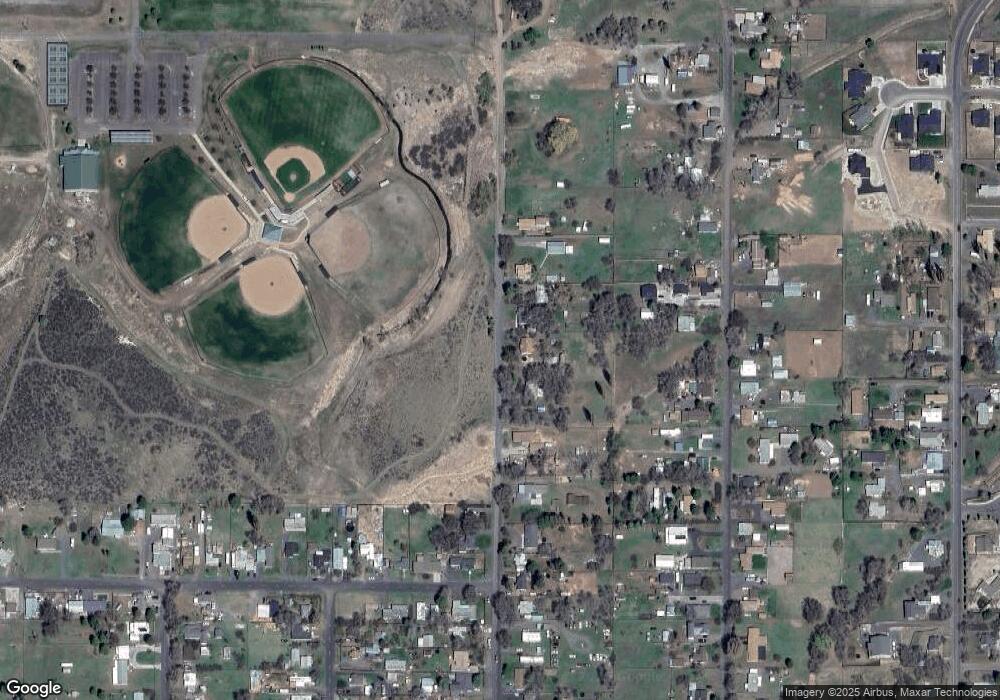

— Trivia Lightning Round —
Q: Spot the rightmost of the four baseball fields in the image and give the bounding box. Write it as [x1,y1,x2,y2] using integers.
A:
[308,183,439,322]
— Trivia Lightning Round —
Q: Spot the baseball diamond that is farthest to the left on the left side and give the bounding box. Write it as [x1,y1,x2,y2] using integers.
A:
[118,145,250,294]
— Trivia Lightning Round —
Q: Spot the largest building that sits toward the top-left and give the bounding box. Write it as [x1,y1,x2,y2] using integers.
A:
[61,149,99,191]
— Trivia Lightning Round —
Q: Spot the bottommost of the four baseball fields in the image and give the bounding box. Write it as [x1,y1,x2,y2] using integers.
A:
[184,253,326,383]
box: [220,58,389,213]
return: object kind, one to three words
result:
baseball field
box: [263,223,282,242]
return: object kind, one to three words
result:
building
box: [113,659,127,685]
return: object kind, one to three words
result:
barn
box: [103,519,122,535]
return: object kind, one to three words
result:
house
